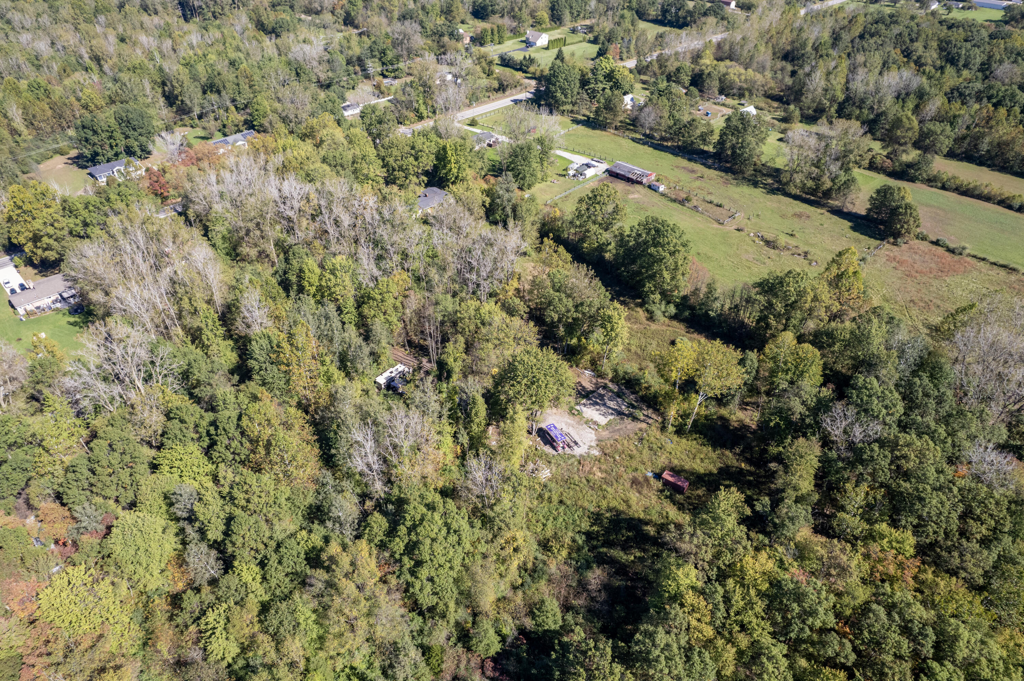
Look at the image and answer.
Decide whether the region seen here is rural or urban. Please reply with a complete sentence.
The land in this view is best described as rural.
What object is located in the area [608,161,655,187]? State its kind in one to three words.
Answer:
barn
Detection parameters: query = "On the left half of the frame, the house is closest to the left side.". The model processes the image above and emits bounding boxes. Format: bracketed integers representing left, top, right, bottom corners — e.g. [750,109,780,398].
[9,273,77,314]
